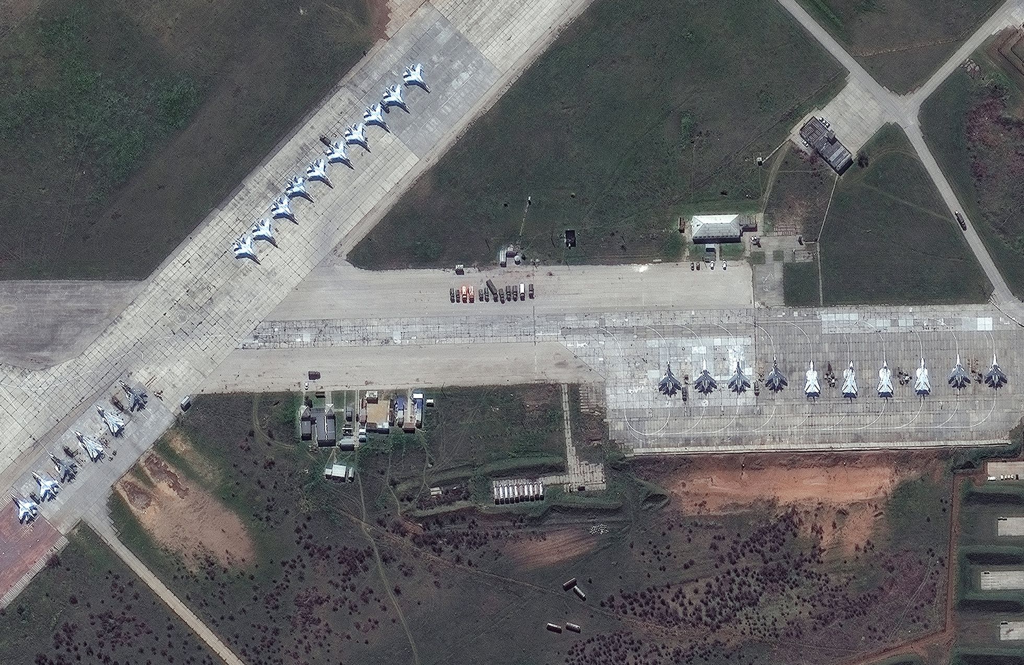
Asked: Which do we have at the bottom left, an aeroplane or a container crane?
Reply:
aeroplane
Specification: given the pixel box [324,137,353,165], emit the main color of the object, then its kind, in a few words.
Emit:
white airplane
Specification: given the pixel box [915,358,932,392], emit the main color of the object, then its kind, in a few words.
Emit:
white airplane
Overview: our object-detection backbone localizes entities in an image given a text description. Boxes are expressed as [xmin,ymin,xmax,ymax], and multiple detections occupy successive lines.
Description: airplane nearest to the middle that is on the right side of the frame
[657,360,682,396]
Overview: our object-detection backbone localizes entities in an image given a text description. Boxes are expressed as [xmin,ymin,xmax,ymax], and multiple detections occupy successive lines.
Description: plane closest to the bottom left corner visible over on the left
[12,496,41,527]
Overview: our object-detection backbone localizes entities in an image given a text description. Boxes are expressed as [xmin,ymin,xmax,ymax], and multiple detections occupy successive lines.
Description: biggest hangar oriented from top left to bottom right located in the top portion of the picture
[800,117,852,171]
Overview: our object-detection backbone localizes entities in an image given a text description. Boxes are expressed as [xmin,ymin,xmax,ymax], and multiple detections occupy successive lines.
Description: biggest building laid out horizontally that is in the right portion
[693,216,741,238]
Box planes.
[842,361,858,395]
[96,406,124,436]
[33,473,61,502]
[12,496,41,527]
[324,137,353,165]
[947,355,971,390]
[76,432,103,462]
[693,358,717,394]
[269,193,298,221]
[231,233,259,262]
[983,354,1007,390]
[727,360,751,396]
[50,453,79,483]
[361,102,389,130]
[764,355,788,391]
[878,361,894,395]
[402,63,430,91]
[915,358,932,392]
[657,360,682,396]
[342,123,370,150]
[285,173,314,201]
[804,360,821,395]
[249,216,277,244]
[382,83,410,111]
[304,158,332,186]
[119,381,148,411]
